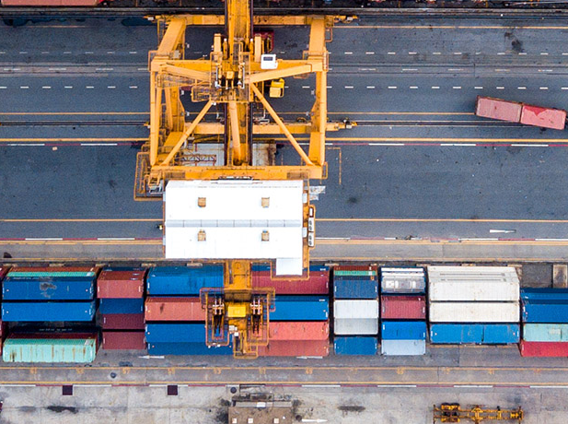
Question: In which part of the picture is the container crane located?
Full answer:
You can find the container crane in the center area of the picture.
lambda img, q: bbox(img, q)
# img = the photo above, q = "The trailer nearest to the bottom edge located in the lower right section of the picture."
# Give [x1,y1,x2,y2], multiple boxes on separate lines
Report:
[433,403,523,423]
